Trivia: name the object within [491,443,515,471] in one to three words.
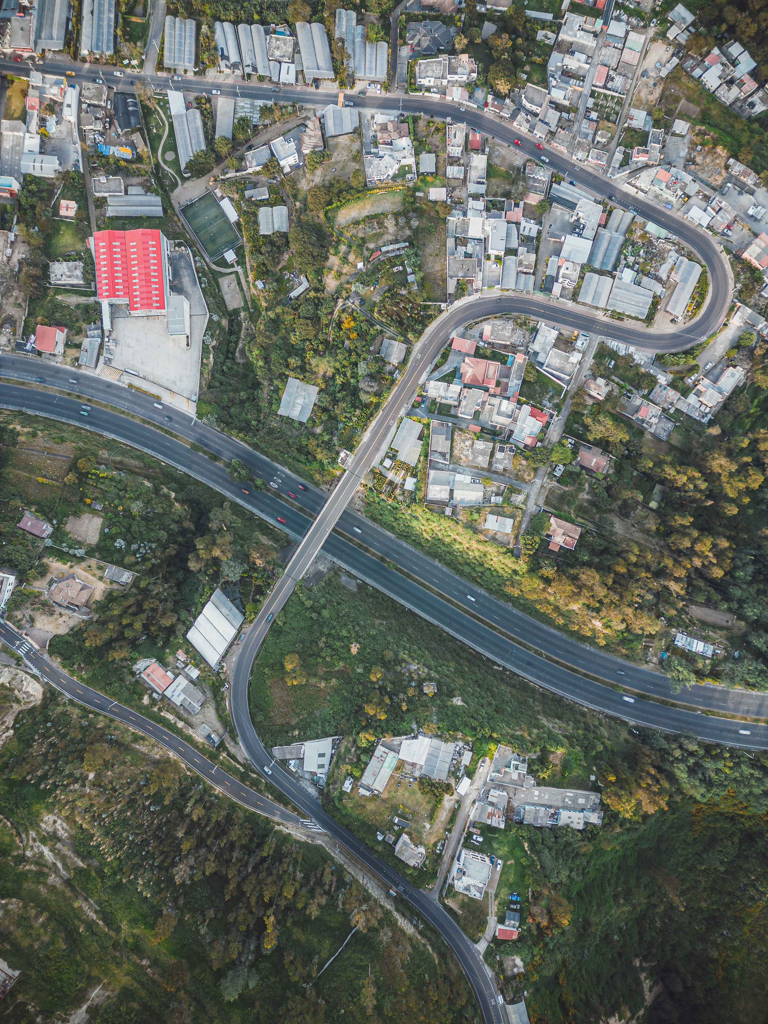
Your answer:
house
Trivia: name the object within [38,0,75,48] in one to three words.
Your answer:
shed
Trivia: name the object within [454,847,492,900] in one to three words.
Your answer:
house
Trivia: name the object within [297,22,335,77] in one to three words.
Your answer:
greenhouse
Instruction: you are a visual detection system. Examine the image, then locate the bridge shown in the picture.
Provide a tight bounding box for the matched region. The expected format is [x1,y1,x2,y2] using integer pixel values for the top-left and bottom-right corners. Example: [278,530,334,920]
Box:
[283,469,362,582]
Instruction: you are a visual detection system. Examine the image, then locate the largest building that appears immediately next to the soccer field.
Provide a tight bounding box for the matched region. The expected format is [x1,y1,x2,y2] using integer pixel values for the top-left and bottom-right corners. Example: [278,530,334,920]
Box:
[94,229,169,315]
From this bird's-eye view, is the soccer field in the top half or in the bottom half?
top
